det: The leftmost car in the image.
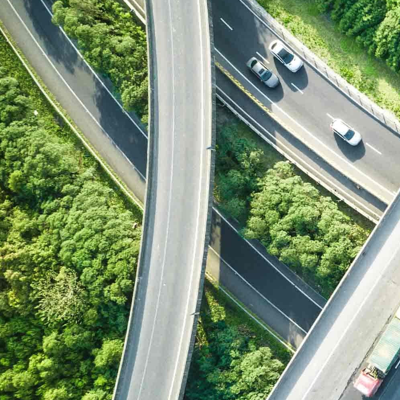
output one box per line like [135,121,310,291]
[245,56,279,90]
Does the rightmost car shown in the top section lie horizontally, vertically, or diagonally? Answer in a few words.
diagonally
